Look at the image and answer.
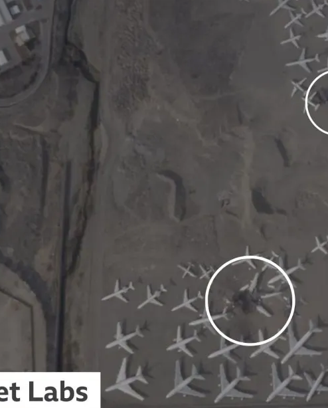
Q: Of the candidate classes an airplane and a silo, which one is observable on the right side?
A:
airplane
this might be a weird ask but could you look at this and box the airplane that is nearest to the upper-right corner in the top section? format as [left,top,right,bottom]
[305,0,328,18]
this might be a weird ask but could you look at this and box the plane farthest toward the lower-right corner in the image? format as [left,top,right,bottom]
[304,368,328,402]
